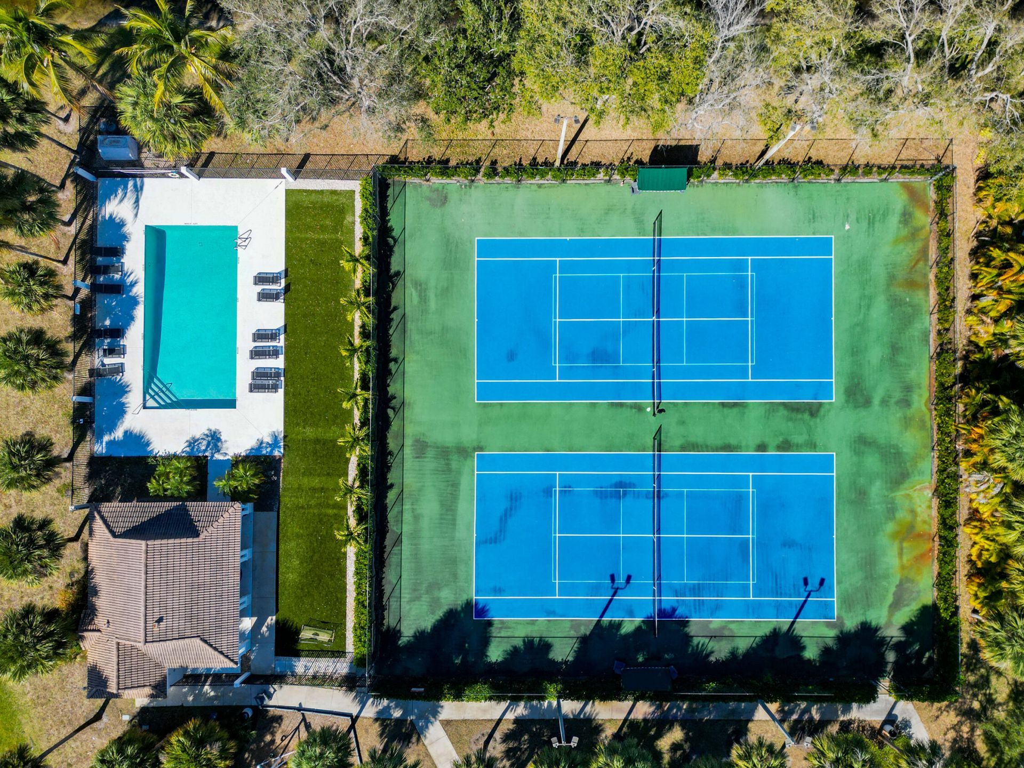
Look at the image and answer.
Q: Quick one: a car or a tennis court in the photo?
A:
tennis court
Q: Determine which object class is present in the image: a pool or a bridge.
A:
pool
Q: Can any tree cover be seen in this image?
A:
Yes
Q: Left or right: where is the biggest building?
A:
left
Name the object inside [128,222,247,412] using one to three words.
swimming pool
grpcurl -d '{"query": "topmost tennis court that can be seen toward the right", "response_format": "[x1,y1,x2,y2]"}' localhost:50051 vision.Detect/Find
[475,236,836,402]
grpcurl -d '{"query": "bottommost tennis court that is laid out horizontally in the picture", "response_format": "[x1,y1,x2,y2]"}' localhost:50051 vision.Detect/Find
[473,452,839,621]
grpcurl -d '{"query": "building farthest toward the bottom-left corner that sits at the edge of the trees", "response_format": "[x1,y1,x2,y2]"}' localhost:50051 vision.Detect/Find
[73,501,253,701]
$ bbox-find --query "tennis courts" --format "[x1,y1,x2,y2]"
[475,236,836,402]
[473,452,839,621]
